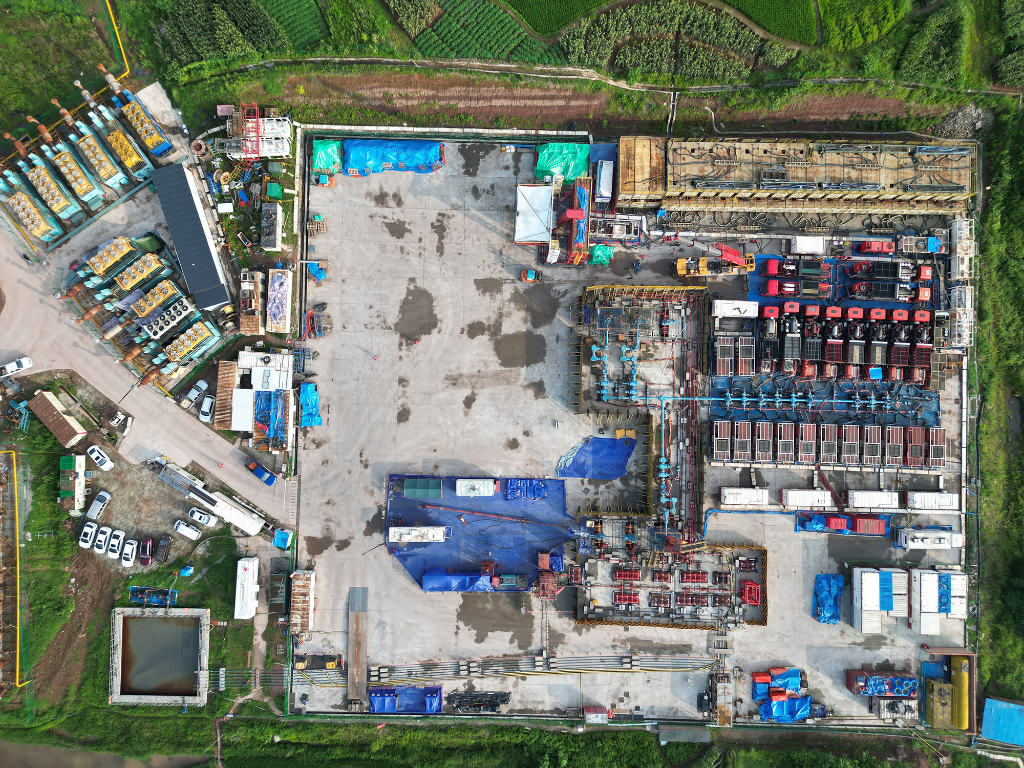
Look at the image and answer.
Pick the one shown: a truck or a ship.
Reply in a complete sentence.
There is a truck in the scene.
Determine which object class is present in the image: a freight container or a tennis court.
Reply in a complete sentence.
Looking from above, you can make out a freight container.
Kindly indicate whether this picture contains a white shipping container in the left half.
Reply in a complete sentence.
Yes, a white shipping container appears in the left half.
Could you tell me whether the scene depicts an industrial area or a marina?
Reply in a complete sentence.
The picture captures an industrial area.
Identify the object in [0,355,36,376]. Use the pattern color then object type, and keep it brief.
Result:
white truck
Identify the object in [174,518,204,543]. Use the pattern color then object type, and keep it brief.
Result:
white vehicle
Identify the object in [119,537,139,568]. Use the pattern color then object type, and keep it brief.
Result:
white car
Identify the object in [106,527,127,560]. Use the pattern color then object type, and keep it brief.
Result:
white car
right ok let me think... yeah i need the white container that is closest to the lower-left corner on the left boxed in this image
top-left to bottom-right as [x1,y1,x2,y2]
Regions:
[289,565,316,633]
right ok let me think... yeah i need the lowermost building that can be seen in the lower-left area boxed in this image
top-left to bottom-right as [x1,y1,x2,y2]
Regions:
[234,553,263,617]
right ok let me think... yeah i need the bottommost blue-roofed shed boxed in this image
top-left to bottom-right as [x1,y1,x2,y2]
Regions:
[978,694,1024,745]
